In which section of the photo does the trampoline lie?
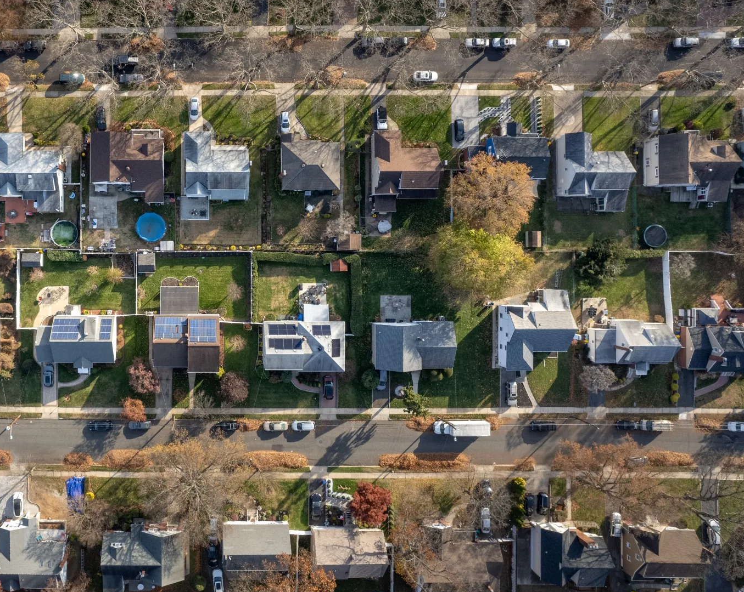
right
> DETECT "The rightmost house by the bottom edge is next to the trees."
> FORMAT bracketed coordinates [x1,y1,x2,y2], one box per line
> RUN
[619,523,716,581]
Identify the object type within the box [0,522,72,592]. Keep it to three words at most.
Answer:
house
